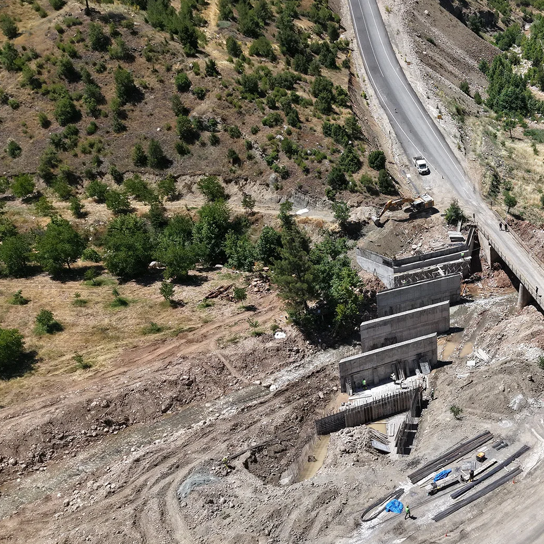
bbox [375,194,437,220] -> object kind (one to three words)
work vehicle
